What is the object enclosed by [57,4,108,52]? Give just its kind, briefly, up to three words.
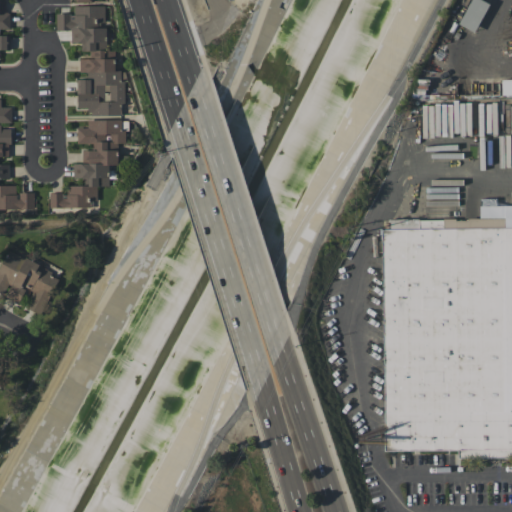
house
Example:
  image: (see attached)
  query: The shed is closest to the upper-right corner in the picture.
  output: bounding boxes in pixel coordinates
[458,0,490,35]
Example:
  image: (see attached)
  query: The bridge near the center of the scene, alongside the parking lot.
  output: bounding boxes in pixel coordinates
[164,58,300,420]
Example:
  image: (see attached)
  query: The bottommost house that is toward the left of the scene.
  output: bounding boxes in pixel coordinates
[0,255,62,309]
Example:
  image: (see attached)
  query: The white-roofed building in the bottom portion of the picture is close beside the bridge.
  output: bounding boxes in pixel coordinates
[384,228,512,459]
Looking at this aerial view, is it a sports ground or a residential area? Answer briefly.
residential area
